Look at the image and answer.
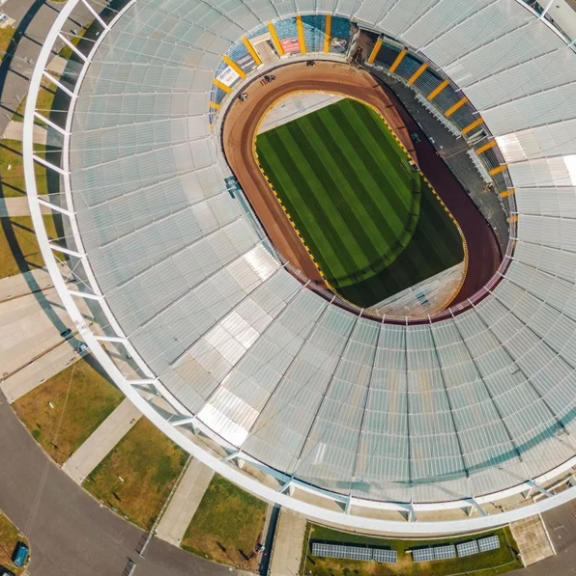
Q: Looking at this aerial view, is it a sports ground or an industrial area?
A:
sports ground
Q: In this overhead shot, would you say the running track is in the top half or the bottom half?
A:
top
